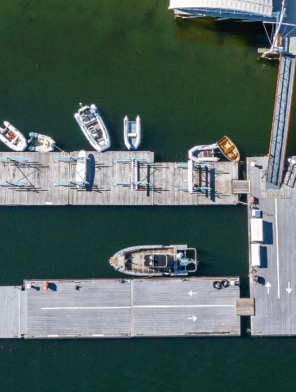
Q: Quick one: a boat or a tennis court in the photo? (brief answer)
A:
boat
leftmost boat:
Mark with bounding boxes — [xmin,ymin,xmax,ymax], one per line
[0,121,28,151]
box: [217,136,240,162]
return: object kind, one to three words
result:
boat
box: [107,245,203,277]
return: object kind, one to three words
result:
boat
